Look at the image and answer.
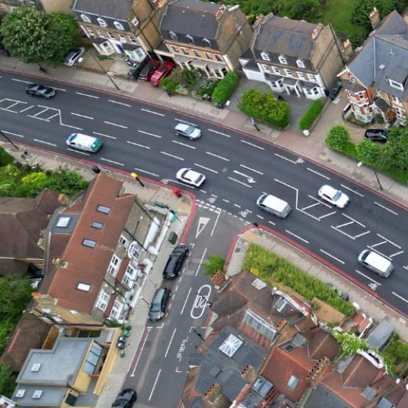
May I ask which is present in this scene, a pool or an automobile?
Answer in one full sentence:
Of the two, only an automobile appears.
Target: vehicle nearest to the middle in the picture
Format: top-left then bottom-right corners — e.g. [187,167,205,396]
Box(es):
[177,168,206,188]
